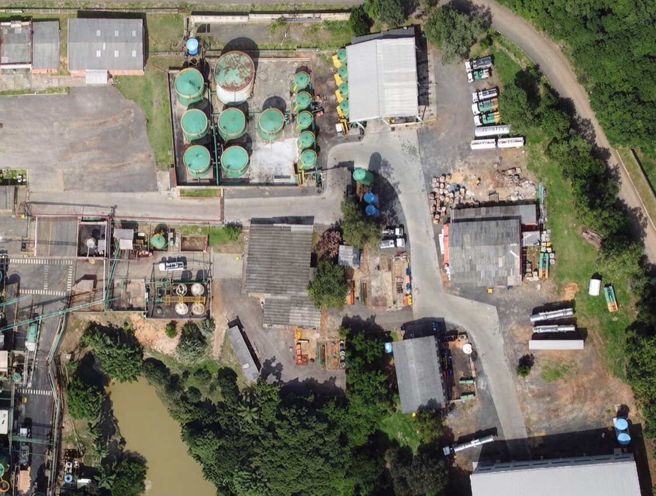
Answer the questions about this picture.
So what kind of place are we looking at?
industrial area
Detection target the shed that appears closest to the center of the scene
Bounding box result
[337,246,359,266]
